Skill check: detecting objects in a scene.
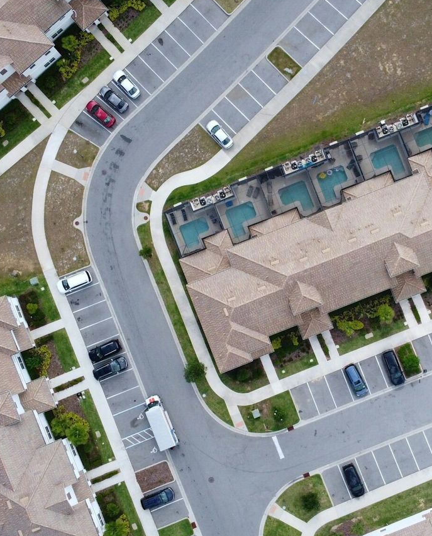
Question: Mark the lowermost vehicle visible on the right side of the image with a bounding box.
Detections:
[342,463,365,498]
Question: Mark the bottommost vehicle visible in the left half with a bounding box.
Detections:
[139,486,176,510]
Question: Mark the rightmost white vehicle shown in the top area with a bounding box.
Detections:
[207,119,234,151]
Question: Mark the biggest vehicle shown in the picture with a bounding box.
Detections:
[148,393,181,452]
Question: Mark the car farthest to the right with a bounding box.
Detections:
[382,349,406,386]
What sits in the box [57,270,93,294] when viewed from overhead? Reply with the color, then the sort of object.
white car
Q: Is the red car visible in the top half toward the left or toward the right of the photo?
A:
left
